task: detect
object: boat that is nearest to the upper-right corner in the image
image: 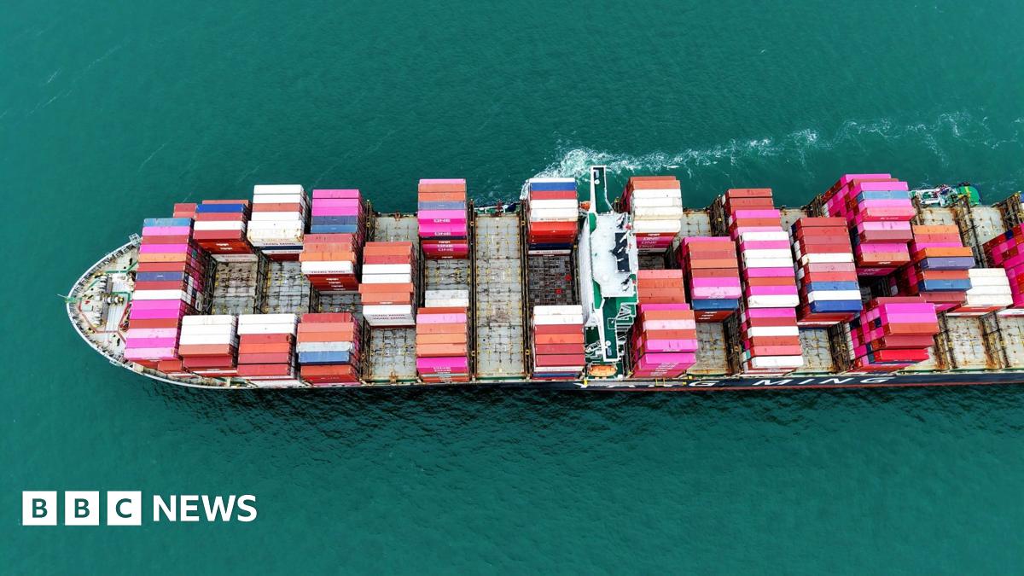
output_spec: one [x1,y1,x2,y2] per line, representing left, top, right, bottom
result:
[908,180,984,205]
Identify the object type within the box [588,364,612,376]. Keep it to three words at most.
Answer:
boat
